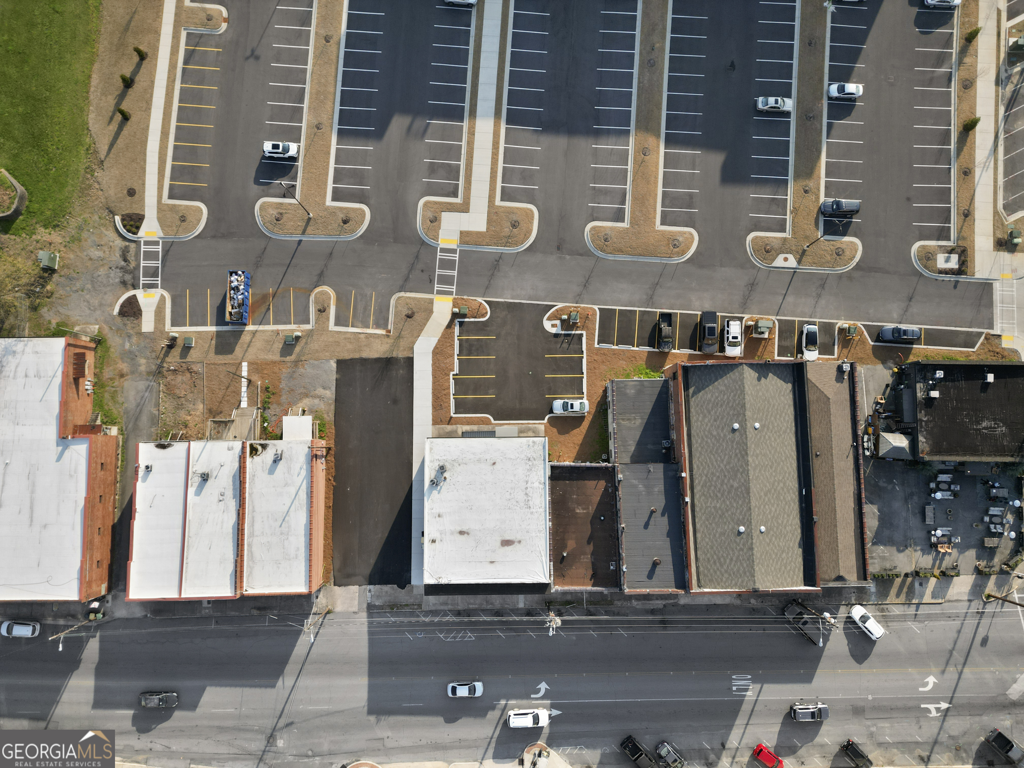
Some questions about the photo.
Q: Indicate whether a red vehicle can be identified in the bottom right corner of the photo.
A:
Yes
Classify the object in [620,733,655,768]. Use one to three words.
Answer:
truck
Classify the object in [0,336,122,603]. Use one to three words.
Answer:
building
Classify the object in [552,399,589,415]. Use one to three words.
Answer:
car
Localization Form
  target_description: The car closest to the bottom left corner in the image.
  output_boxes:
[2,619,42,638]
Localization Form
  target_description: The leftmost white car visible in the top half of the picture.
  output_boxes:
[263,141,300,160]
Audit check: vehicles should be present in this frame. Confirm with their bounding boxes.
[723,318,742,358]
[552,399,589,415]
[787,702,831,723]
[820,200,859,218]
[825,83,863,101]
[700,310,719,355]
[879,325,920,343]
[755,97,791,115]
[620,733,655,768]
[922,0,960,11]
[754,742,791,768]
[800,325,820,361]
[447,679,485,699]
[263,141,300,160]
[850,604,884,642]
[507,707,549,729]
[839,738,874,768]
[782,603,825,647]
[139,689,180,709]
[656,310,675,355]
[985,728,1024,768]
[2,619,42,638]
